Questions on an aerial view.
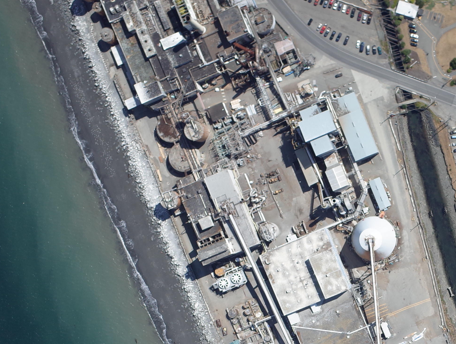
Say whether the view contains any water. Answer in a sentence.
Yes, some water is visible.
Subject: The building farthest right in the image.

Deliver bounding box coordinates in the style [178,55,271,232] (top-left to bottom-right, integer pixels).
[395,0,424,19]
